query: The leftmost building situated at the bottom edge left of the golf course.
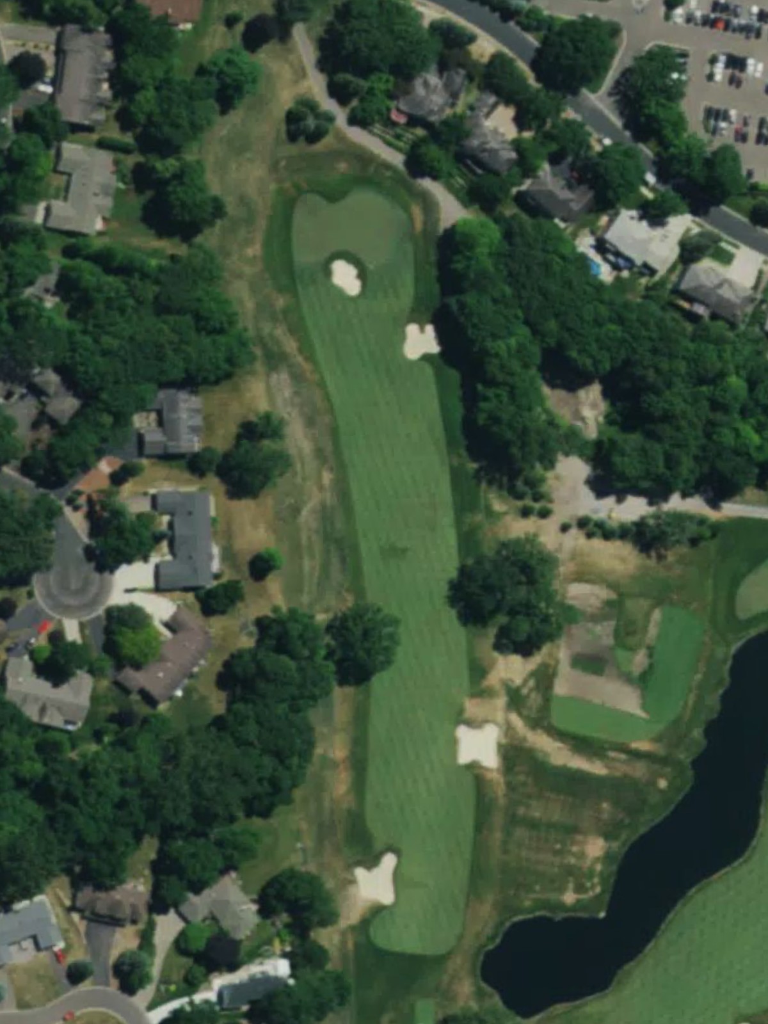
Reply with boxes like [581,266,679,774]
[0,894,69,973]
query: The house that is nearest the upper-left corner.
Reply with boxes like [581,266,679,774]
[58,23,113,125]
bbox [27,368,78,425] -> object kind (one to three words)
house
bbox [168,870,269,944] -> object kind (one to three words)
house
